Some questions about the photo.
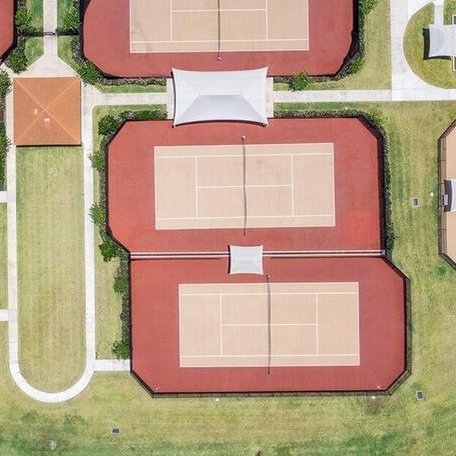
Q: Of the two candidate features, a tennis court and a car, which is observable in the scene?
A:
tennis court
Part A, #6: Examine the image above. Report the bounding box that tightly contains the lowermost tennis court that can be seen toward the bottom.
[131,255,406,394]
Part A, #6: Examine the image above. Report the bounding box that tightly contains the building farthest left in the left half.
[13,77,81,146]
